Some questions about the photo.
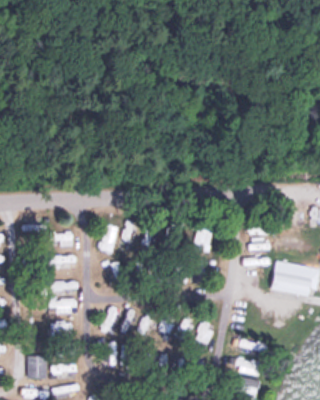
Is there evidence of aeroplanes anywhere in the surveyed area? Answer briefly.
No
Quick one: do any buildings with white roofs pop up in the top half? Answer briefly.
No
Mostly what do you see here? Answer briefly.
trees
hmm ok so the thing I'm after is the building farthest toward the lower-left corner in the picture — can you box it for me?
[28,356,48,379]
